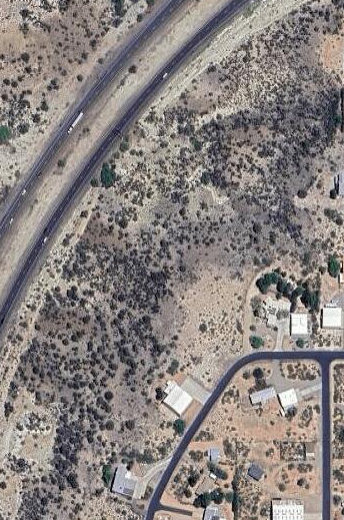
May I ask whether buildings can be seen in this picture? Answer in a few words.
Yes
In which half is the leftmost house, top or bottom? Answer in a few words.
bottom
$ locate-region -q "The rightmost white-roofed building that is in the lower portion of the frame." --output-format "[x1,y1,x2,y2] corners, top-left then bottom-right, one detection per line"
[323,307,342,328]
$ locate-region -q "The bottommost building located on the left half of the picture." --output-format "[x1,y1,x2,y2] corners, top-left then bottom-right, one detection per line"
[112,464,138,496]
